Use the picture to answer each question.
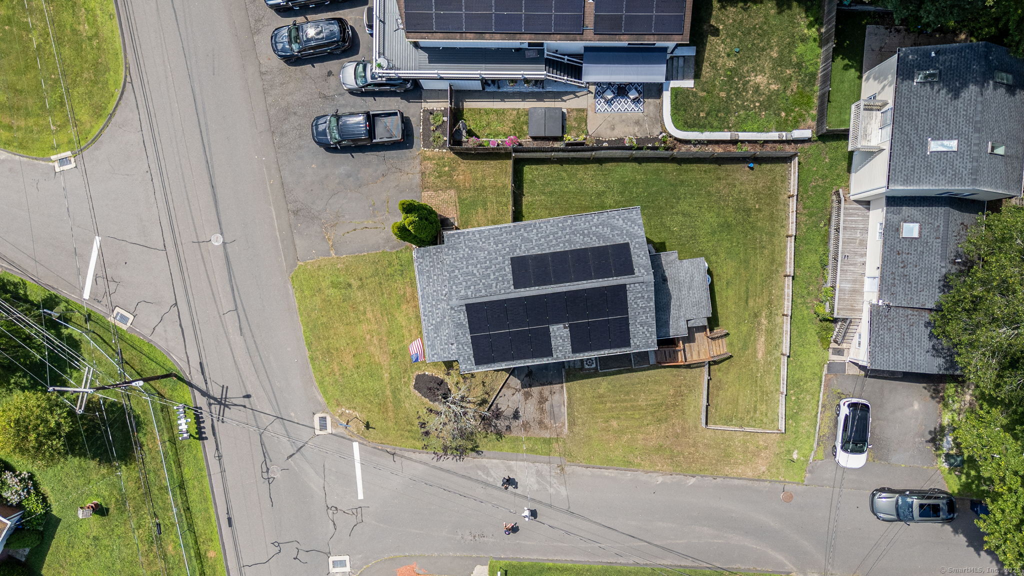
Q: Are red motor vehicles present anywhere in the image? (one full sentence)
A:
No, I find no red motor vehicle anywhere in the image.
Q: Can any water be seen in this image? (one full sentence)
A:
No, there's no water in this view.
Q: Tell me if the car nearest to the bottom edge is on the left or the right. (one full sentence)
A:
It is on the right.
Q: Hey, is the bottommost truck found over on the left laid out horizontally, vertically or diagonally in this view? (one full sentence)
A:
What the image shows is the bottommost truck found over on the left lying horizontally.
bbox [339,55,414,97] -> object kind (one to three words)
car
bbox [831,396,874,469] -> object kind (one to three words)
car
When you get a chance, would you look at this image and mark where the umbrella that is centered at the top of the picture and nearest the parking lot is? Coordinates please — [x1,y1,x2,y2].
[452,121,468,140]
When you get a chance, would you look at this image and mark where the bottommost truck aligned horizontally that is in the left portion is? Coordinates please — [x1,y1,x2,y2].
[311,105,406,149]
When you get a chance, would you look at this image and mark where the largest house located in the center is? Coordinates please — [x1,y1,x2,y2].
[412,204,714,375]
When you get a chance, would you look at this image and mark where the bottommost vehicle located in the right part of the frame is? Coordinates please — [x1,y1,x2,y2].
[868,485,957,528]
